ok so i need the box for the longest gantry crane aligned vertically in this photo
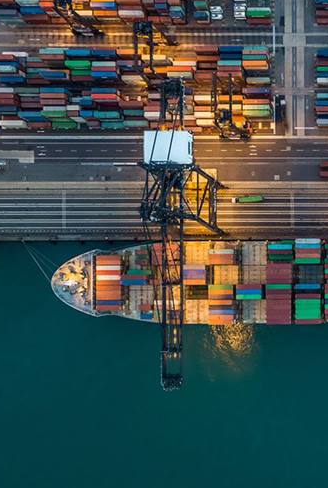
[134,77,228,390]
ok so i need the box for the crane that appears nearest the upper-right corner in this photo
[212,75,246,135]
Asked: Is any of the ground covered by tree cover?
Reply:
No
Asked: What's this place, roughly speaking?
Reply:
port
